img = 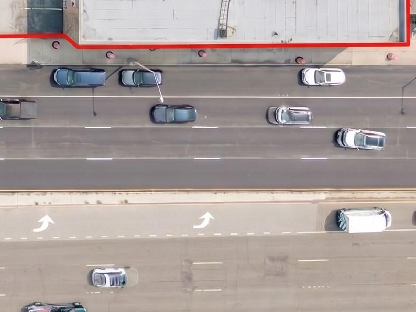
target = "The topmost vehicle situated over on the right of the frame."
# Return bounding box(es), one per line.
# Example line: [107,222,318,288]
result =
[300,66,347,88]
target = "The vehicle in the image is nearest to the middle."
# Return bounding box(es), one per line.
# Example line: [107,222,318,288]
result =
[151,104,198,126]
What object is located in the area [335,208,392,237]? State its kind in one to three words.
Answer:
van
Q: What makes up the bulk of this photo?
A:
paved ground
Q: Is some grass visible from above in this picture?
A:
No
